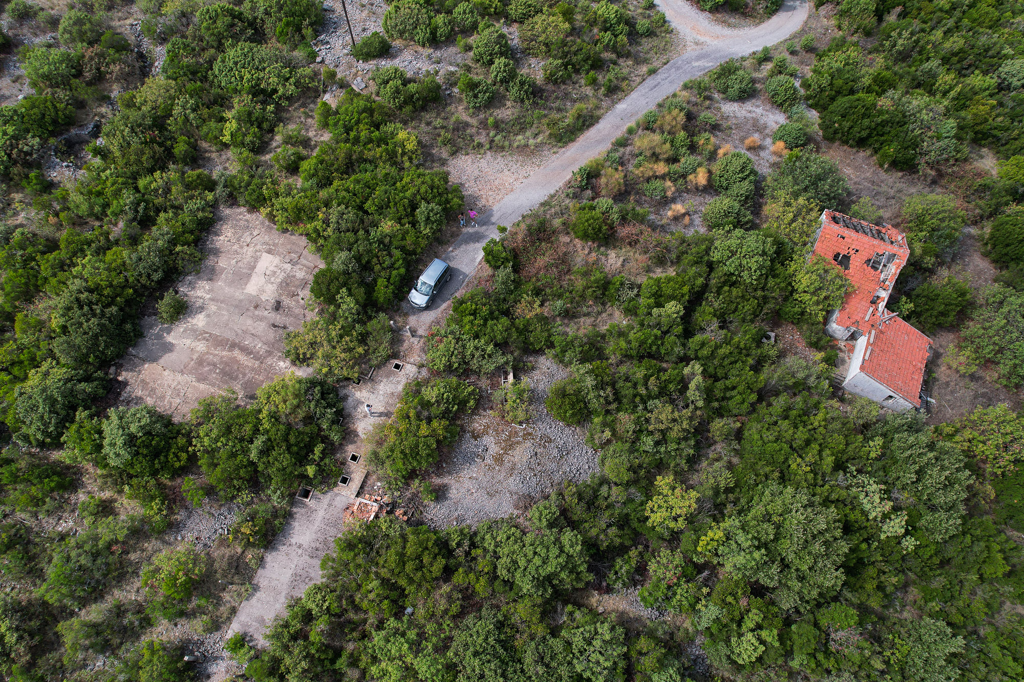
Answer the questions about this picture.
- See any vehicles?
Yes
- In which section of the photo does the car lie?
center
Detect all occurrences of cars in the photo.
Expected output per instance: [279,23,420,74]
[407,258,455,310]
